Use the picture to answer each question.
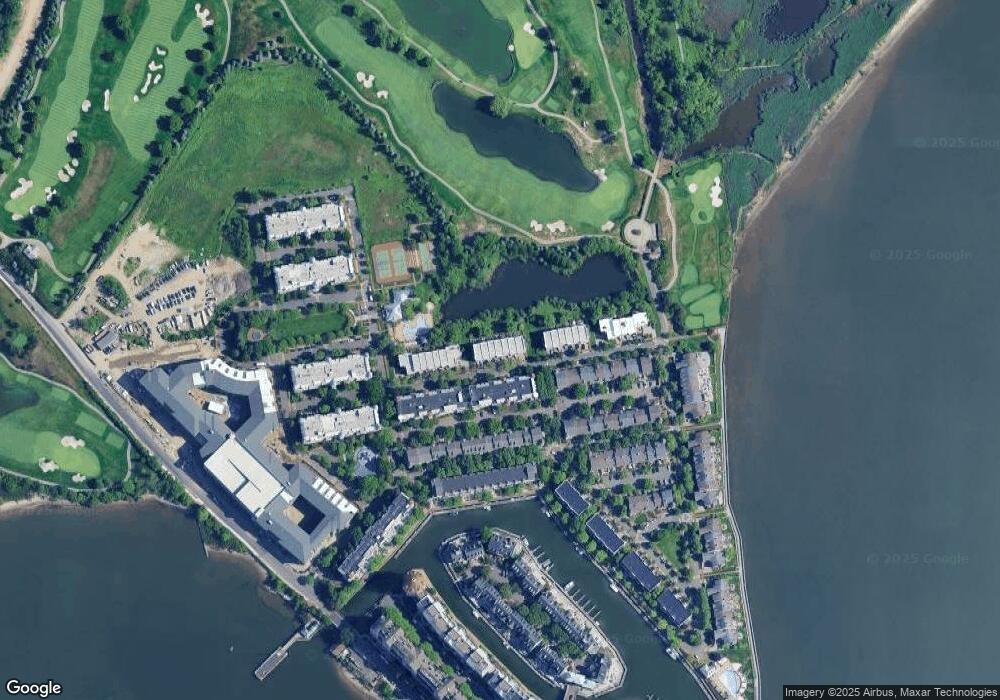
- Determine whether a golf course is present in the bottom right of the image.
No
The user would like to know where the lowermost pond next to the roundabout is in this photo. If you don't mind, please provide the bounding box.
[441,254,635,322]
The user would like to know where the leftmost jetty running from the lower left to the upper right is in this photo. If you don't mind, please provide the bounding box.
[254,628,304,680]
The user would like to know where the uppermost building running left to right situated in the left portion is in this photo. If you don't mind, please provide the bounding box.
[266,203,347,243]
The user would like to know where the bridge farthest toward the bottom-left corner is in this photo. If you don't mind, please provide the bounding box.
[318,599,361,646]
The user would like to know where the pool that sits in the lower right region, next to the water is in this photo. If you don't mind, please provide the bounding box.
[709,657,746,700]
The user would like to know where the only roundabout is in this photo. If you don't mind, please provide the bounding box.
[622,175,656,252]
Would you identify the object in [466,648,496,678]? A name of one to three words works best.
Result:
building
